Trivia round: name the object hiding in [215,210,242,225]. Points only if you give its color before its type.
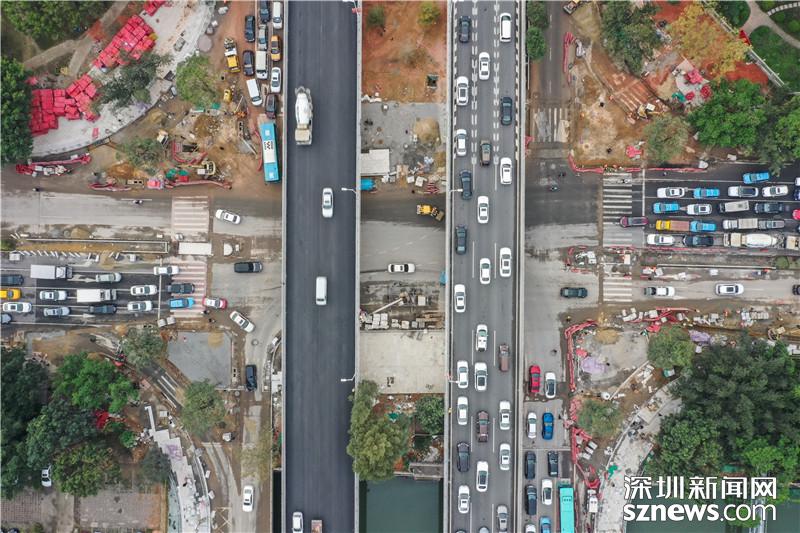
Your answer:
white car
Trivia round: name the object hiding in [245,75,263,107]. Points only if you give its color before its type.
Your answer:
white vehicle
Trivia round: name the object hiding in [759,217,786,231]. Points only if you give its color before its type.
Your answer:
gray vehicle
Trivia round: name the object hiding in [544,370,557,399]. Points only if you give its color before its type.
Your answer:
white vehicle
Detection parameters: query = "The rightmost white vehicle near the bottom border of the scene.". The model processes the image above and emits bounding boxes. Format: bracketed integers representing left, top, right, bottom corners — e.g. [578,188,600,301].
[587,489,601,513]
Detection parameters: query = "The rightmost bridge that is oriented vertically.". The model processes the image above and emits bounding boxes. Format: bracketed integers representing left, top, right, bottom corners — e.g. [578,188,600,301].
[444,0,526,533]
